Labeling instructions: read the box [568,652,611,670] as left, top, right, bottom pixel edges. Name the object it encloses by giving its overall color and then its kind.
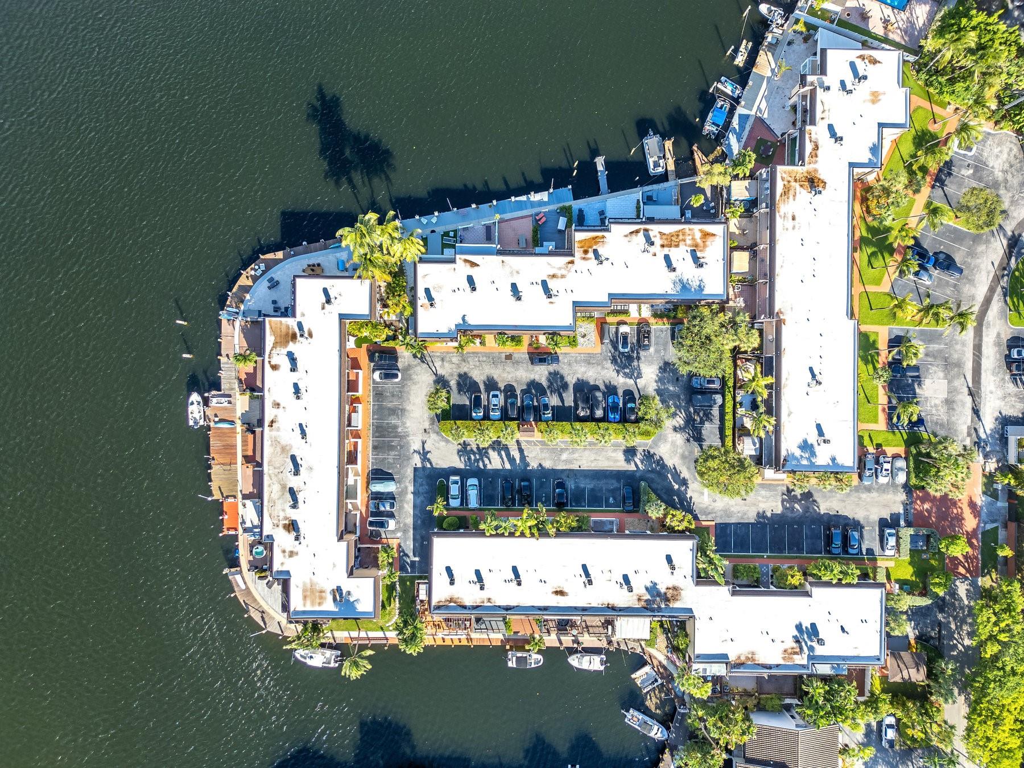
white boat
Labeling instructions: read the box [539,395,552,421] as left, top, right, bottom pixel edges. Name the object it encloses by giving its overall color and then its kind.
blue vehicle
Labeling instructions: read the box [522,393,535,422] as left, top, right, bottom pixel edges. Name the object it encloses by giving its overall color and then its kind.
blue vehicle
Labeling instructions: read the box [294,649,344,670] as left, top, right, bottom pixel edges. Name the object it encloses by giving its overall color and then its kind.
white boat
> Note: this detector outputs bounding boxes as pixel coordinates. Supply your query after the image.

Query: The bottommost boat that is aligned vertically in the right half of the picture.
[645,132,665,175]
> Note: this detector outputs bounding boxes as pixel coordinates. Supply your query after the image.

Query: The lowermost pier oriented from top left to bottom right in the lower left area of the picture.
[225,567,296,639]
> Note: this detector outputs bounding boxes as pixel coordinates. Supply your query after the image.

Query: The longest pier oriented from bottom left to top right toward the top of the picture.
[221,236,344,319]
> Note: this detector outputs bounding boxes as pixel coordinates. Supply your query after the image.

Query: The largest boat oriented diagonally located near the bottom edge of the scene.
[621,706,666,738]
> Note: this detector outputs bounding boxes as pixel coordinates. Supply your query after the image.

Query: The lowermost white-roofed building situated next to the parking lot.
[430,528,885,675]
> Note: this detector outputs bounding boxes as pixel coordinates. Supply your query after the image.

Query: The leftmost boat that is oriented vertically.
[188,391,203,431]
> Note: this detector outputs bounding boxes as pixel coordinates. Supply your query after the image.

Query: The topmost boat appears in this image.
[755,4,788,24]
